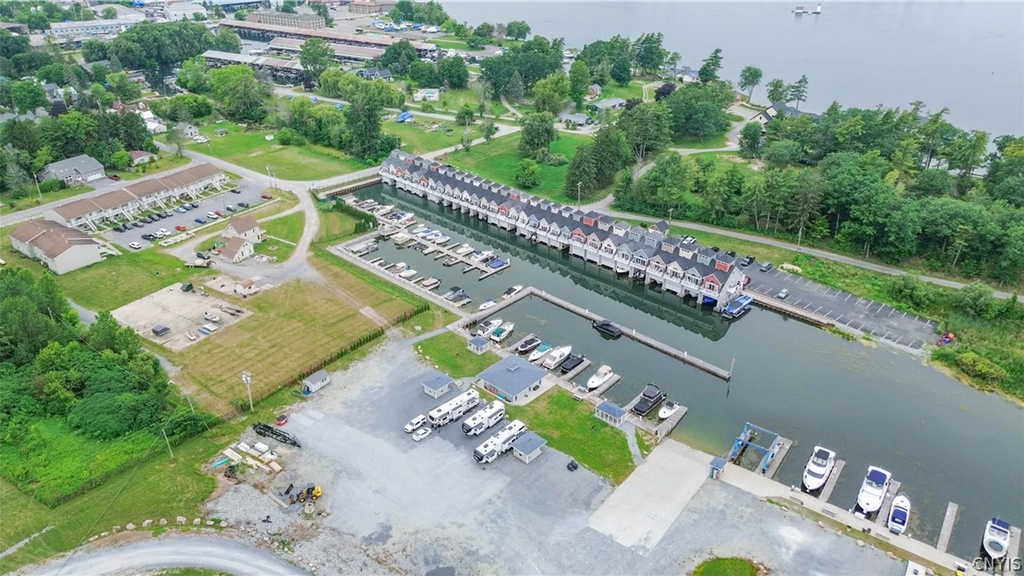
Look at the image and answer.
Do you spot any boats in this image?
Yes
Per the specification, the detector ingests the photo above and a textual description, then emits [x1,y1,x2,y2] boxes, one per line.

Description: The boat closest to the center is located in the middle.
[499,280,523,299]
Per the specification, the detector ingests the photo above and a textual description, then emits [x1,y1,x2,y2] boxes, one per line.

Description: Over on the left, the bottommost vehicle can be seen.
[290,482,324,508]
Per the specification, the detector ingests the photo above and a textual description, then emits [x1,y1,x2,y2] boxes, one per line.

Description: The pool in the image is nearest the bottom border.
[414,89,444,101]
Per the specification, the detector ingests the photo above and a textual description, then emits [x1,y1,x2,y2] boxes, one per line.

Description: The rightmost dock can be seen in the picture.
[986,526,1022,576]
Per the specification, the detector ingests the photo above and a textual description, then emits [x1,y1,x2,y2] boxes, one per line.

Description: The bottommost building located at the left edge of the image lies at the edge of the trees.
[14,216,120,274]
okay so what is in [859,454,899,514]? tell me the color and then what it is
white boat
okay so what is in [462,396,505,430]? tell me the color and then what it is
white camper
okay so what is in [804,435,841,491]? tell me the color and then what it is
white boat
